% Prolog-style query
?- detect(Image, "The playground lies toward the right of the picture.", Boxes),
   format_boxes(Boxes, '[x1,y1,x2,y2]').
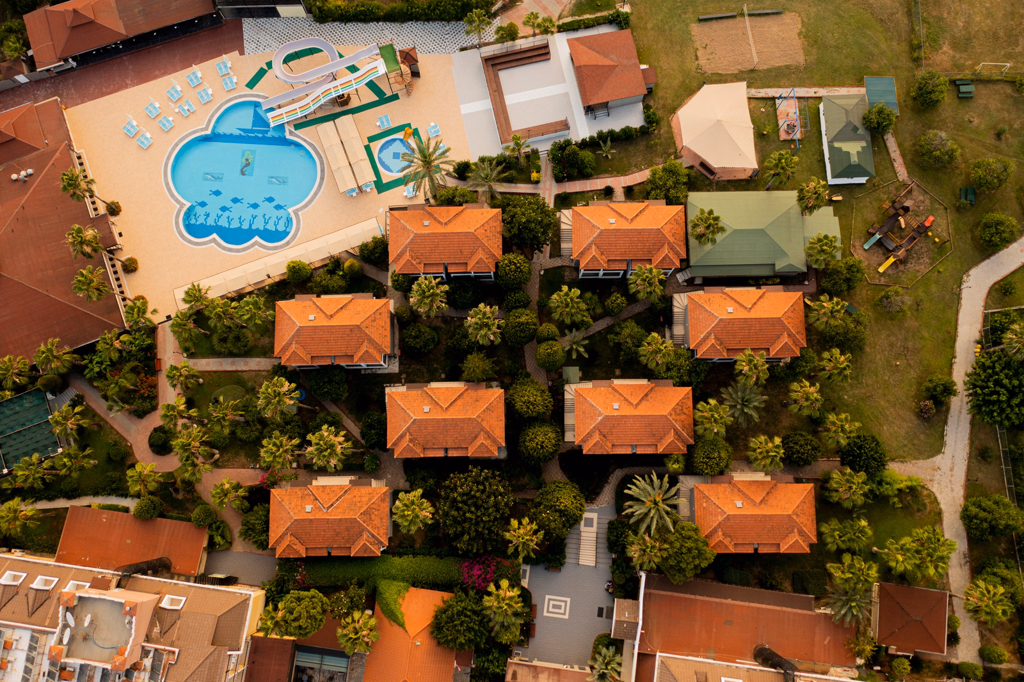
[861,181,950,273]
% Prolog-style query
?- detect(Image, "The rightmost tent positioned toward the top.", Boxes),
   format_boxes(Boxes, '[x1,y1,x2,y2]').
[666,81,759,183]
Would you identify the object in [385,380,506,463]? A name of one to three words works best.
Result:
house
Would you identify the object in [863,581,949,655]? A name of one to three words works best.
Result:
building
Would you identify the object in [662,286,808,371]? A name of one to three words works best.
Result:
house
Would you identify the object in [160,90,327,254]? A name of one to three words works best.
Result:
swimming pool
